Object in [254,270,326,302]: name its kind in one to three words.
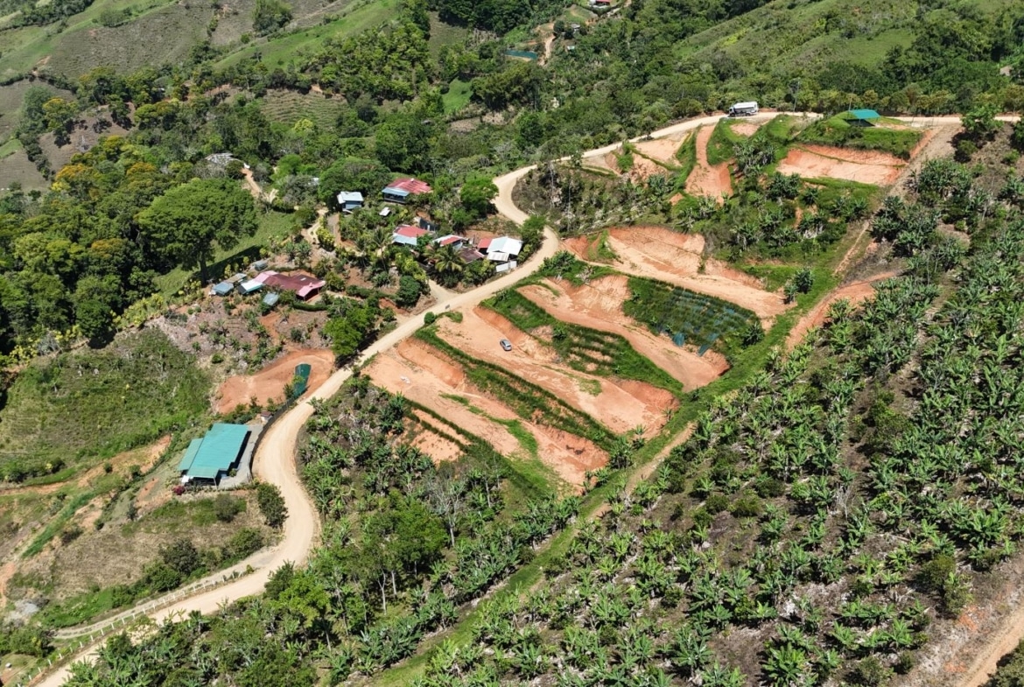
house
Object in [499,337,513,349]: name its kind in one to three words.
vehicle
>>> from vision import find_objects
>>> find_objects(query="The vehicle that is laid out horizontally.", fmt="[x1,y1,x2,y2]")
[729,104,758,117]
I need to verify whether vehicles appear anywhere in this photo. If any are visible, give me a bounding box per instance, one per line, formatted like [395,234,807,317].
[499,337,513,349]
[729,104,758,117]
